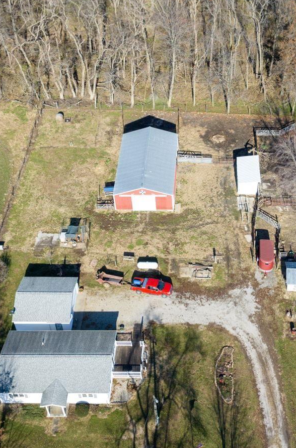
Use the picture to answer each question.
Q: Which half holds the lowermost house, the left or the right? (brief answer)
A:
left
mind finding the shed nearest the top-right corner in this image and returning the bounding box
[237,156,261,194]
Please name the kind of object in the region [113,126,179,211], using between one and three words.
barn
